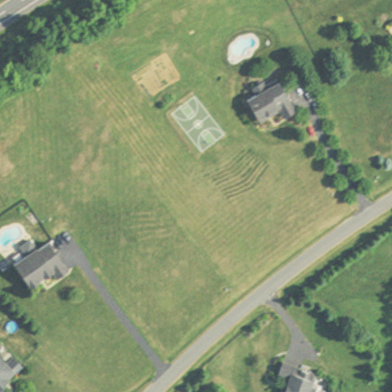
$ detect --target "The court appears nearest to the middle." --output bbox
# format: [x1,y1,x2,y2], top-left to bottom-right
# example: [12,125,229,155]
[171,96,225,153]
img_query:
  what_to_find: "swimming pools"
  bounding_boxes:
[228,34,260,64]
[6,322,18,333]
[0,224,32,258]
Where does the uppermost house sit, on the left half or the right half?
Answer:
right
